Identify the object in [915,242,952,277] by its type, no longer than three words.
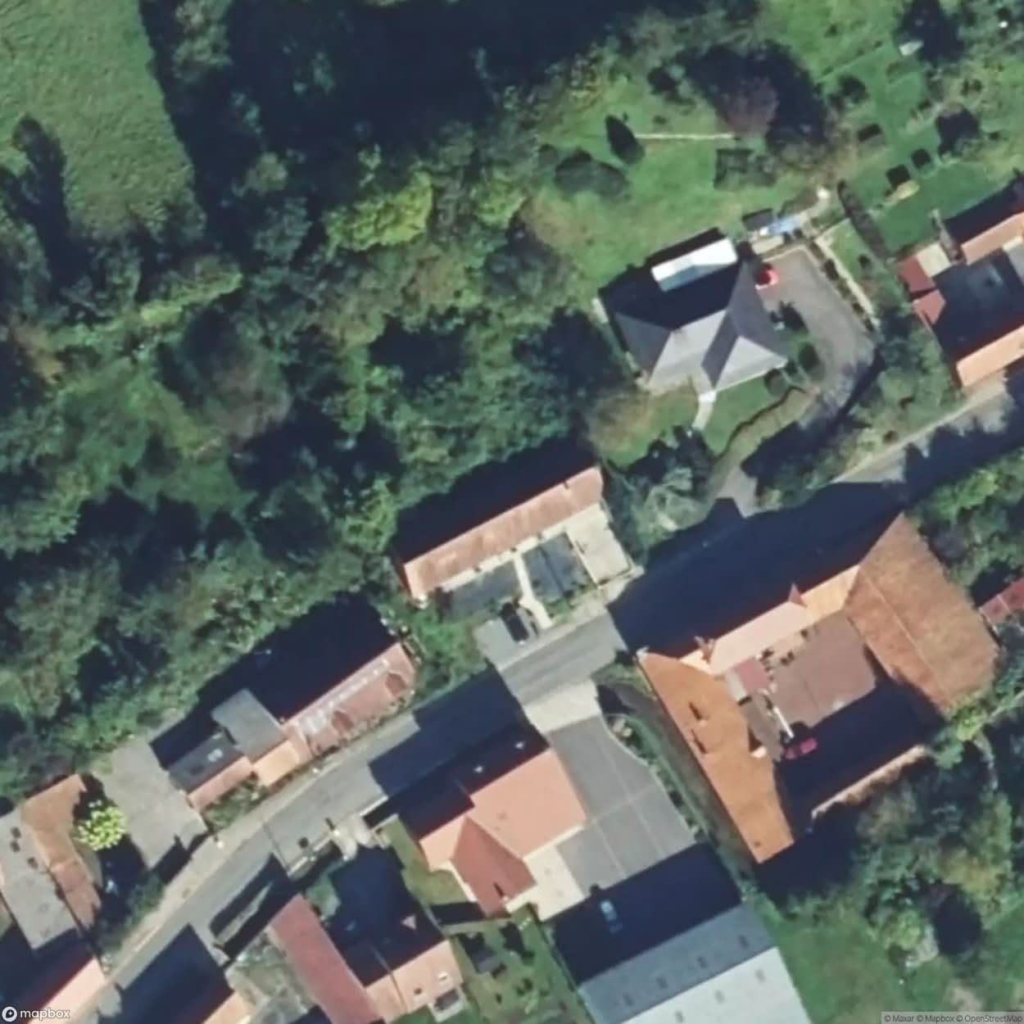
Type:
building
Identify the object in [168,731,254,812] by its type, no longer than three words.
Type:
house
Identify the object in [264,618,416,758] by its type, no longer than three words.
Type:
house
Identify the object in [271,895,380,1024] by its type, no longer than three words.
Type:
shed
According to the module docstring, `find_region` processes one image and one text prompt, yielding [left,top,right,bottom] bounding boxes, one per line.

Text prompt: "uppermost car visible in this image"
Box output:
[506,606,531,640]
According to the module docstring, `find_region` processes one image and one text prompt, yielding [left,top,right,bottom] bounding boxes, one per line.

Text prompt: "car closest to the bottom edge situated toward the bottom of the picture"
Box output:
[599,895,622,931]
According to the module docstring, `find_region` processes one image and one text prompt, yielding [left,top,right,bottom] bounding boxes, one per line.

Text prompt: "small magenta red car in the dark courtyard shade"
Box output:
[783,737,819,761]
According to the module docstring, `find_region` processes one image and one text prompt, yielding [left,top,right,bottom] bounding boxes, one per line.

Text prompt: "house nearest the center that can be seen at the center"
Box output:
[389,439,603,600]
